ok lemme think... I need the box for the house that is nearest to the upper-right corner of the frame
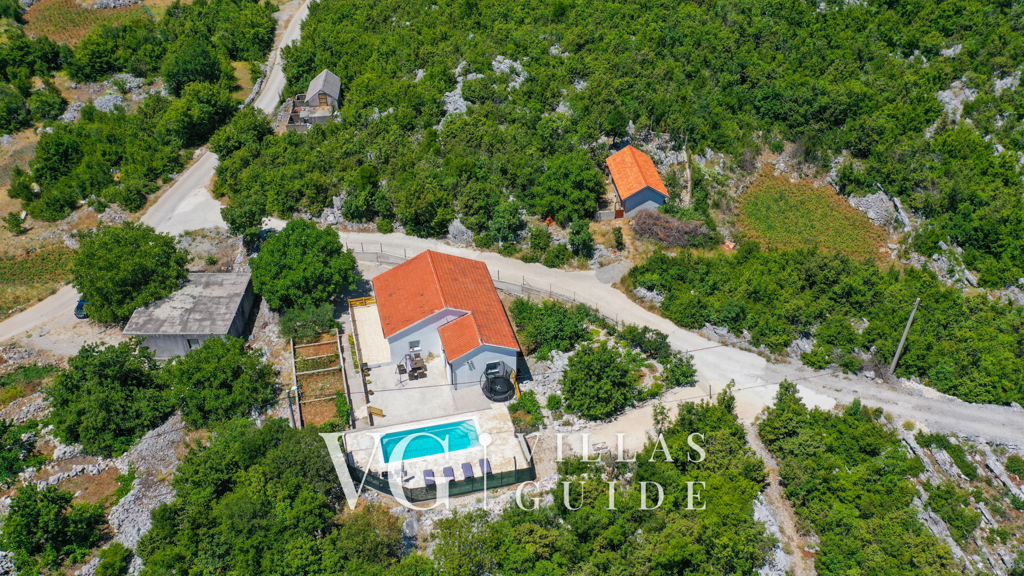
[602,144,670,219]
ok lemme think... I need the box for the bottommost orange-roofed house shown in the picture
[374,250,521,389]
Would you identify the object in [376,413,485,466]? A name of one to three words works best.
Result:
swimming pool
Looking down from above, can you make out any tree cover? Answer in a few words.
Yes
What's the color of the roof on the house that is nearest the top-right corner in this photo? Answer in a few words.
orange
